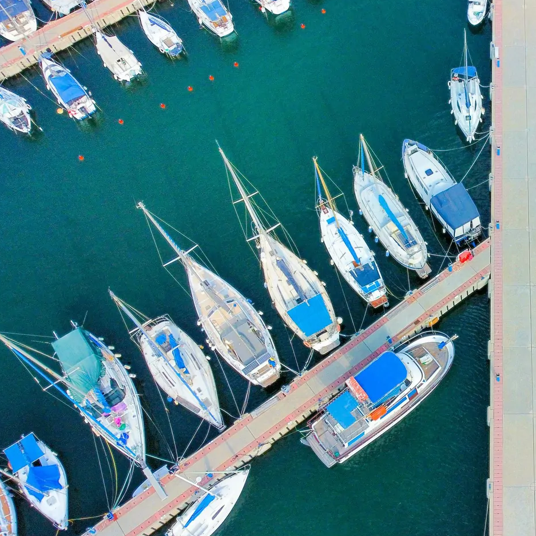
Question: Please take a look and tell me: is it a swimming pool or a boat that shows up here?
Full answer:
There is a boat in the scene.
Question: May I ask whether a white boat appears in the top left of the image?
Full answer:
Yes, a white boat is visible in the top left of the image.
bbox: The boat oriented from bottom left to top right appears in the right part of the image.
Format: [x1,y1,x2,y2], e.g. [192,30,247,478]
[300,335,458,469]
